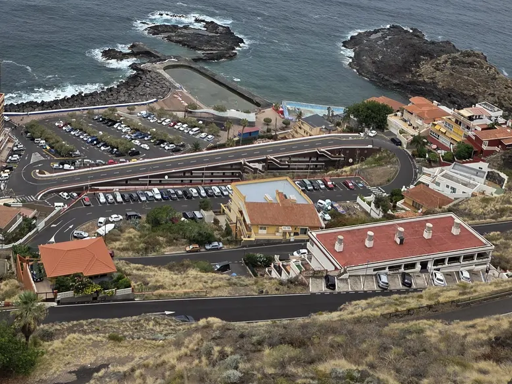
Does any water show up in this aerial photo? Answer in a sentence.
Yes, water shows up in the scene.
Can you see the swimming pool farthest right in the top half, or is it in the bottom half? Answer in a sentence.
The top half of the photo is where the swimming pool farthest right is.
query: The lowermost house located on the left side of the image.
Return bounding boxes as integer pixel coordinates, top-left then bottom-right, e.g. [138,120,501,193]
[18,236,134,299]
